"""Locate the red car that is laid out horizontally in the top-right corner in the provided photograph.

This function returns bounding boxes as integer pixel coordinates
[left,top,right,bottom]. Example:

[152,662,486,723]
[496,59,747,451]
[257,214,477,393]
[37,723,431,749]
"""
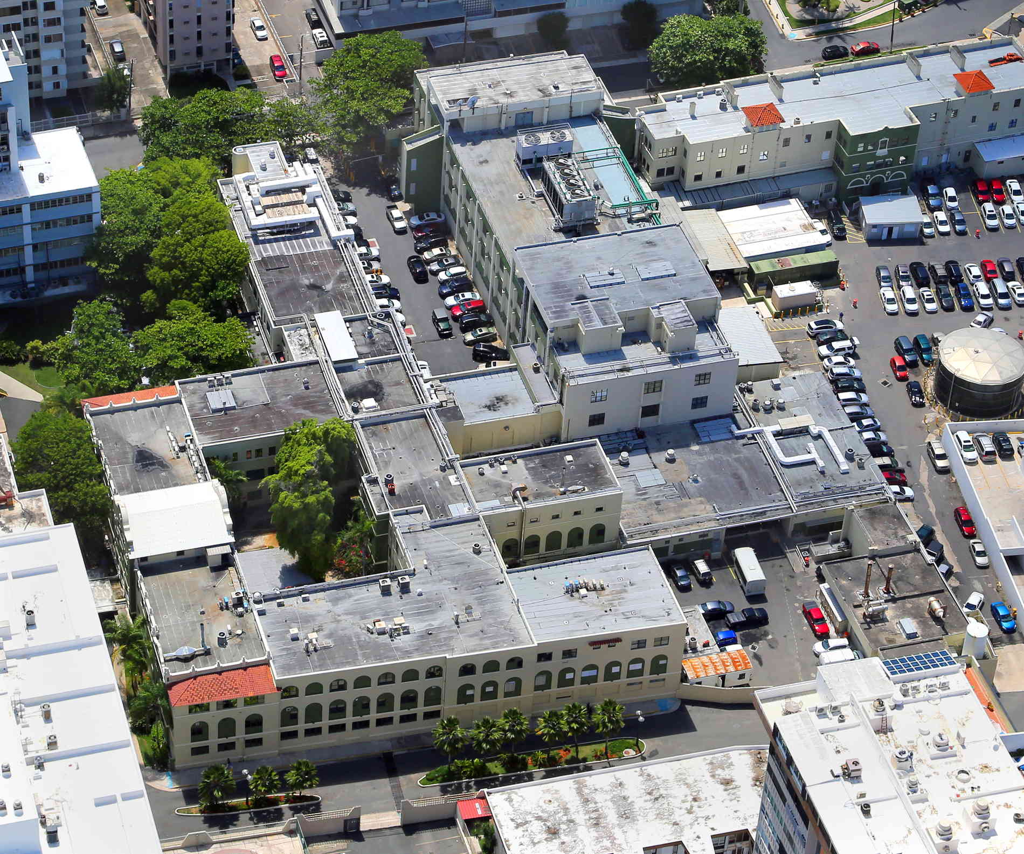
[849,42,881,57]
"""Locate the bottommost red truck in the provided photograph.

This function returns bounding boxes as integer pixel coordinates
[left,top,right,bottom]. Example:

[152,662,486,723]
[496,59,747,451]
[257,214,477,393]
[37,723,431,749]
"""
[803,602,829,640]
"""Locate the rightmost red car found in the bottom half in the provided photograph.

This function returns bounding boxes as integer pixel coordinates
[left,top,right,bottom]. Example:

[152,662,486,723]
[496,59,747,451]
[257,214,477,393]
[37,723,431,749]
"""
[954,506,975,538]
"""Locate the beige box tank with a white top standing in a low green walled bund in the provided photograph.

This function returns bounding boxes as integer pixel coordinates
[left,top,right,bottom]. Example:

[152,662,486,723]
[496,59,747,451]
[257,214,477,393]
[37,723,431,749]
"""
[768,274,825,309]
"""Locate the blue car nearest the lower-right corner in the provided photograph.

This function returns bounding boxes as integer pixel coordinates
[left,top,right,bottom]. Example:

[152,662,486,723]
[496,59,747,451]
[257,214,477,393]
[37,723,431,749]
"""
[992,603,1014,635]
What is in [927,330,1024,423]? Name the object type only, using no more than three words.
water tank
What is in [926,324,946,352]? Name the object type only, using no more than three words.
vehicle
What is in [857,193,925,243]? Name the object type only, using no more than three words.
building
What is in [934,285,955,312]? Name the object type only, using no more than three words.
car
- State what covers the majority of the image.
buildings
